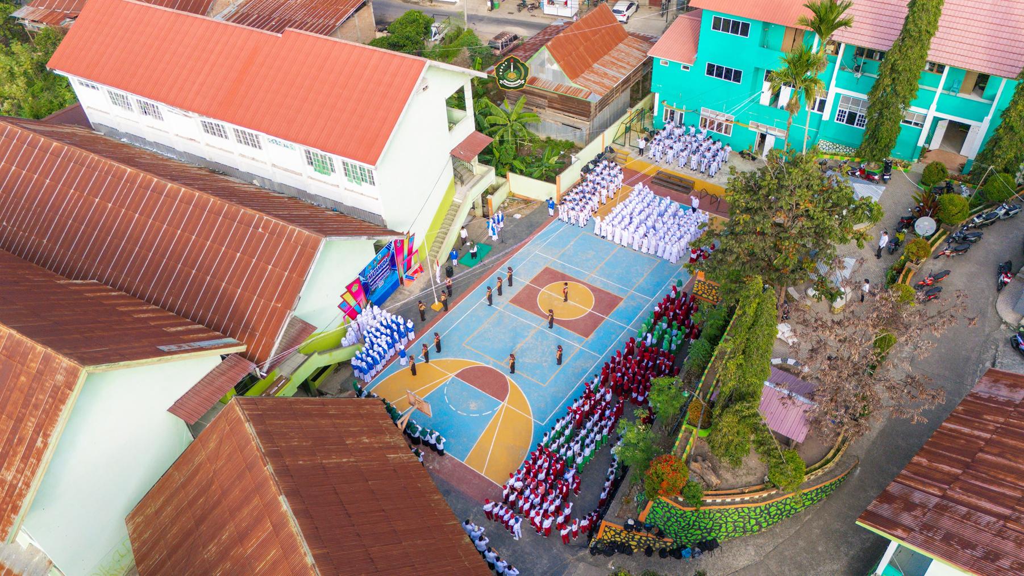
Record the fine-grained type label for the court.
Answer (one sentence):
The court appears to be a basketball court.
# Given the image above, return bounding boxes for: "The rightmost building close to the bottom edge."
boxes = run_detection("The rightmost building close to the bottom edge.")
[855,367,1024,576]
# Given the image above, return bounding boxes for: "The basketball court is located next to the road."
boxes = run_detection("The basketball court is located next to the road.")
[336,168,726,517]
